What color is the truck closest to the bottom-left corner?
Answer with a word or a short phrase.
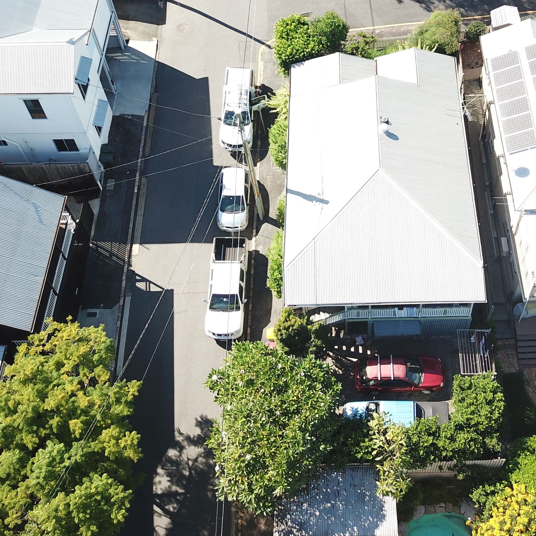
white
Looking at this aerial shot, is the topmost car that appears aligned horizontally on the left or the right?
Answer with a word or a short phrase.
right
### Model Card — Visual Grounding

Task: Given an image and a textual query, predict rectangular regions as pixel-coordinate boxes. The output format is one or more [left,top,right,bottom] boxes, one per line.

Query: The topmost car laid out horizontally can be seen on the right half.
[354,351,444,395]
